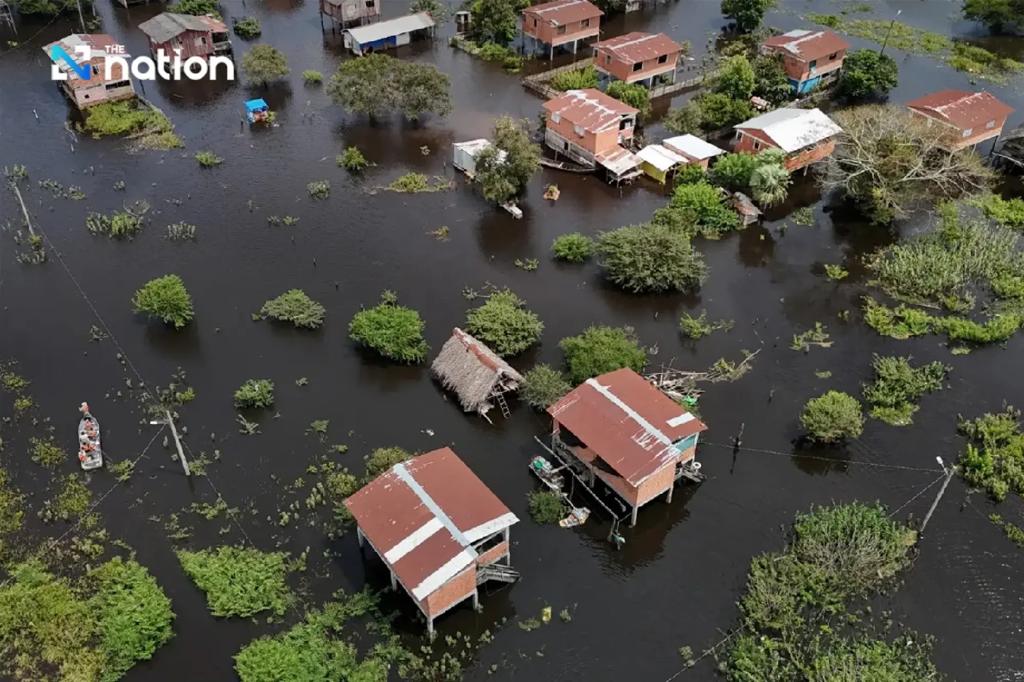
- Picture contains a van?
No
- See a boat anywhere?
Yes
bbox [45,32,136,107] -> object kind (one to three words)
house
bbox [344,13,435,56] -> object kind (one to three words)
barn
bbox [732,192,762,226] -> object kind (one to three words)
shed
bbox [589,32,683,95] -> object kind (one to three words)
house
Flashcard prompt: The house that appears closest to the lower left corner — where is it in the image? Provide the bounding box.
[343,446,528,637]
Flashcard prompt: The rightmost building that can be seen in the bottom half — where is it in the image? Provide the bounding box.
[548,367,710,525]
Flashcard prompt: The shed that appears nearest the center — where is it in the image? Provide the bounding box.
[428,327,526,429]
